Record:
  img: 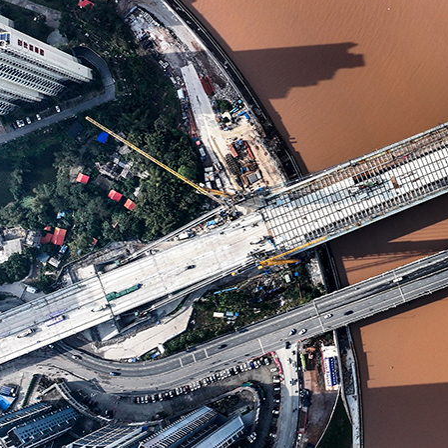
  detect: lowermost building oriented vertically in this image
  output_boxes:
[323,346,342,389]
